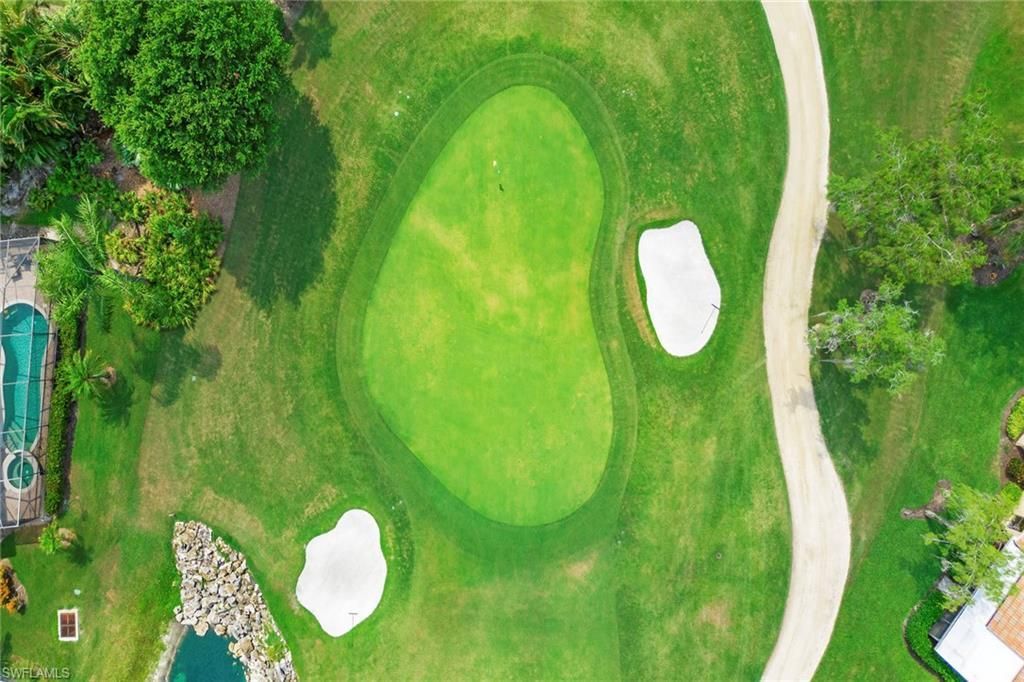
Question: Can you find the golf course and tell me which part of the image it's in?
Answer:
center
